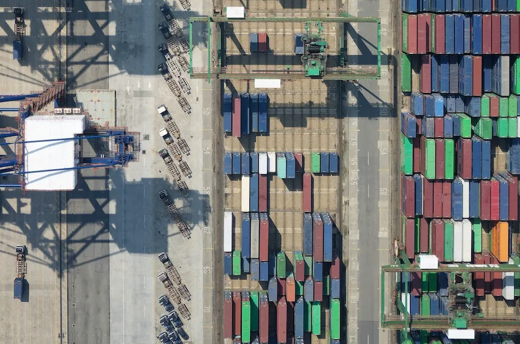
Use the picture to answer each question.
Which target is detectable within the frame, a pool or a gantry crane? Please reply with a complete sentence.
It is a gantry crane that can be seen here.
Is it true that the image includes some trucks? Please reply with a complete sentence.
Yes, there's a truck here.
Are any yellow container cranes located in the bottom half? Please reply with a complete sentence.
No, no yellow container crane appears in the bottom half.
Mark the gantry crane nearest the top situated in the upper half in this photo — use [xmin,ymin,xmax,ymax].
[189,0,381,91]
